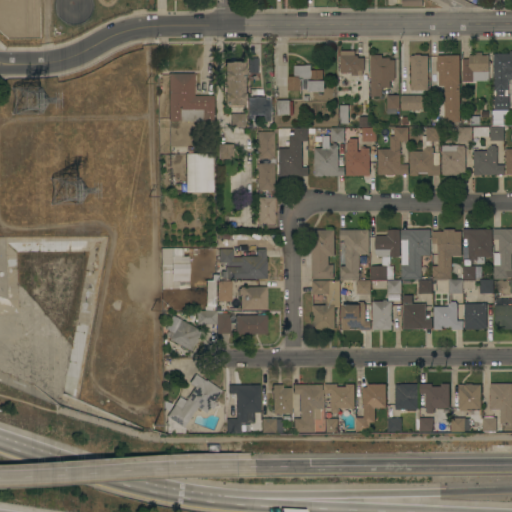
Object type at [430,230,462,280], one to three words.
house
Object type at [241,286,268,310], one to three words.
house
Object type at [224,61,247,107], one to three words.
building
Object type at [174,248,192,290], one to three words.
greenhouse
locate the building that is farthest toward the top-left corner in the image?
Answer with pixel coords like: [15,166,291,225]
[168,72,215,122]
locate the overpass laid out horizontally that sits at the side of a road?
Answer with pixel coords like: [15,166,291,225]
[0,452,257,488]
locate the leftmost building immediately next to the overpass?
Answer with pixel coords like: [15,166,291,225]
[168,376,222,428]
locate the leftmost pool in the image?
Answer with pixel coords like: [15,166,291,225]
[195,415,219,430]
